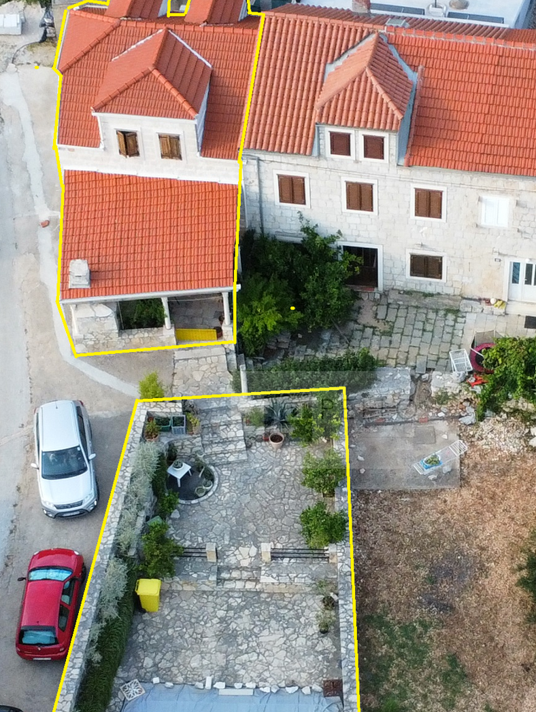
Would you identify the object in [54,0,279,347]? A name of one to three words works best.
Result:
house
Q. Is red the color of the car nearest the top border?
No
